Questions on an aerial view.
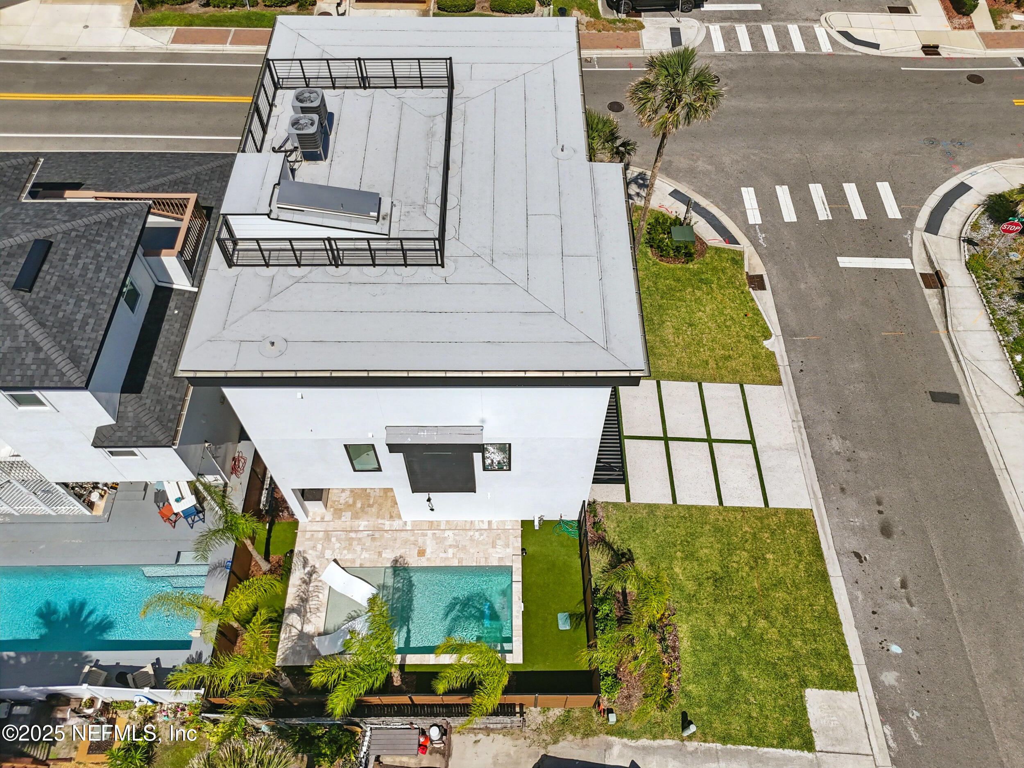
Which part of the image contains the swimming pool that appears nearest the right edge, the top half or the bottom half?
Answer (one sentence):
You can find the swimming pool that appears nearest the right edge in the bottom half.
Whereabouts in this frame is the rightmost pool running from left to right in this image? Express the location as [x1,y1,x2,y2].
[327,566,523,654]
